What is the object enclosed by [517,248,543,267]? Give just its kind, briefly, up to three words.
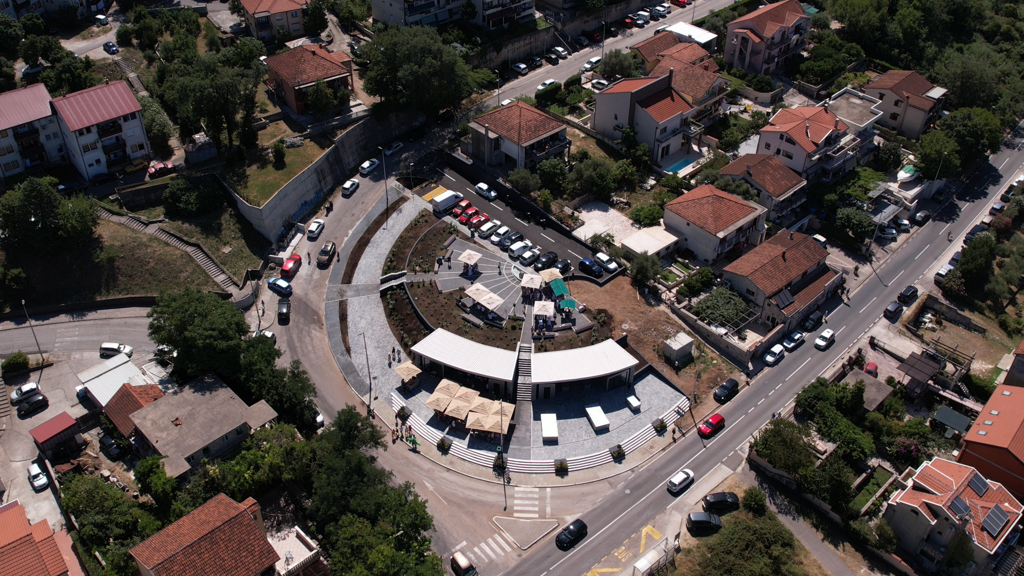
car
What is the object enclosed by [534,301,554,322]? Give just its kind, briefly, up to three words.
umbrella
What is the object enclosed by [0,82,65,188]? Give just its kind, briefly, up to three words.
building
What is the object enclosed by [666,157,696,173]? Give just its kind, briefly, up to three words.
swimming pool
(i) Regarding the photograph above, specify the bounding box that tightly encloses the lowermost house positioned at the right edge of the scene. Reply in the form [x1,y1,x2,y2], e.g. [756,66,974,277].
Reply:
[880,453,1024,576]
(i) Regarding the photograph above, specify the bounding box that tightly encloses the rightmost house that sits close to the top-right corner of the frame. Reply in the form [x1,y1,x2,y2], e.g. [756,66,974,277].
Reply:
[865,64,948,135]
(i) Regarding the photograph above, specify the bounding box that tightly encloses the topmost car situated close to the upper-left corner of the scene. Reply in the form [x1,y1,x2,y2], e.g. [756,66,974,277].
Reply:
[87,12,114,27]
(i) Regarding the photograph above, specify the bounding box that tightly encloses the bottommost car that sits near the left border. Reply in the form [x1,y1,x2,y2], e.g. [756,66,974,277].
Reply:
[25,461,50,492]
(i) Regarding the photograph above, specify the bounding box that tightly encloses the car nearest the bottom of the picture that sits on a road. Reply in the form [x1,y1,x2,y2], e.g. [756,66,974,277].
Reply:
[447,545,478,576]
